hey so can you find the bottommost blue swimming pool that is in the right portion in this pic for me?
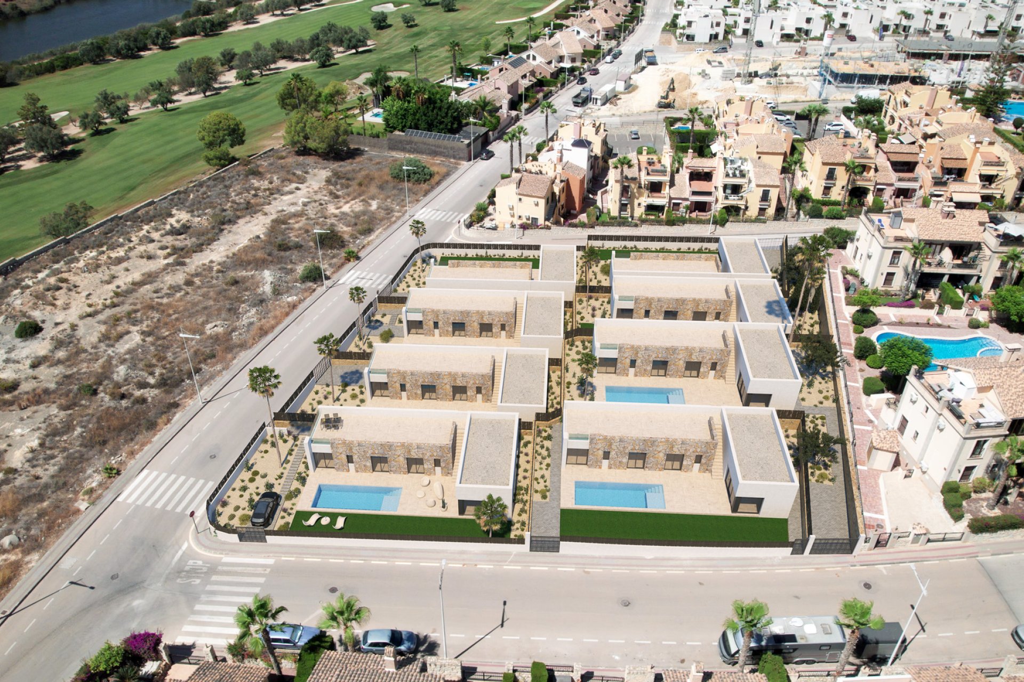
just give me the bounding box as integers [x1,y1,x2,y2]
[572,478,669,511]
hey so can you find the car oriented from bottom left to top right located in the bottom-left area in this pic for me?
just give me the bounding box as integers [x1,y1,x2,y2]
[245,486,283,527]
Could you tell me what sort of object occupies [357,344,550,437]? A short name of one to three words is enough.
house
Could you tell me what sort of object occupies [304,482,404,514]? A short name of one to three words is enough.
swimming pool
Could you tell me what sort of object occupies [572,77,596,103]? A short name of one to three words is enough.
truck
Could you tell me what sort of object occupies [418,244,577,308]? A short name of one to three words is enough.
house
